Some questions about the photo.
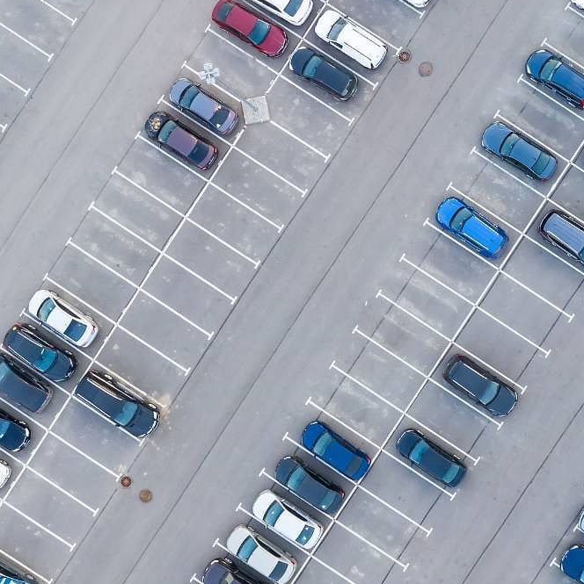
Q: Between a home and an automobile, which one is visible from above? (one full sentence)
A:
This aerial view contains an automobile.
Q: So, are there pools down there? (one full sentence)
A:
No, no pool is visible in the scene.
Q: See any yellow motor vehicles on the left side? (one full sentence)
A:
No, I see no yellow motor vehicle on the left side.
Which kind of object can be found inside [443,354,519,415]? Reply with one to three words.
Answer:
car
